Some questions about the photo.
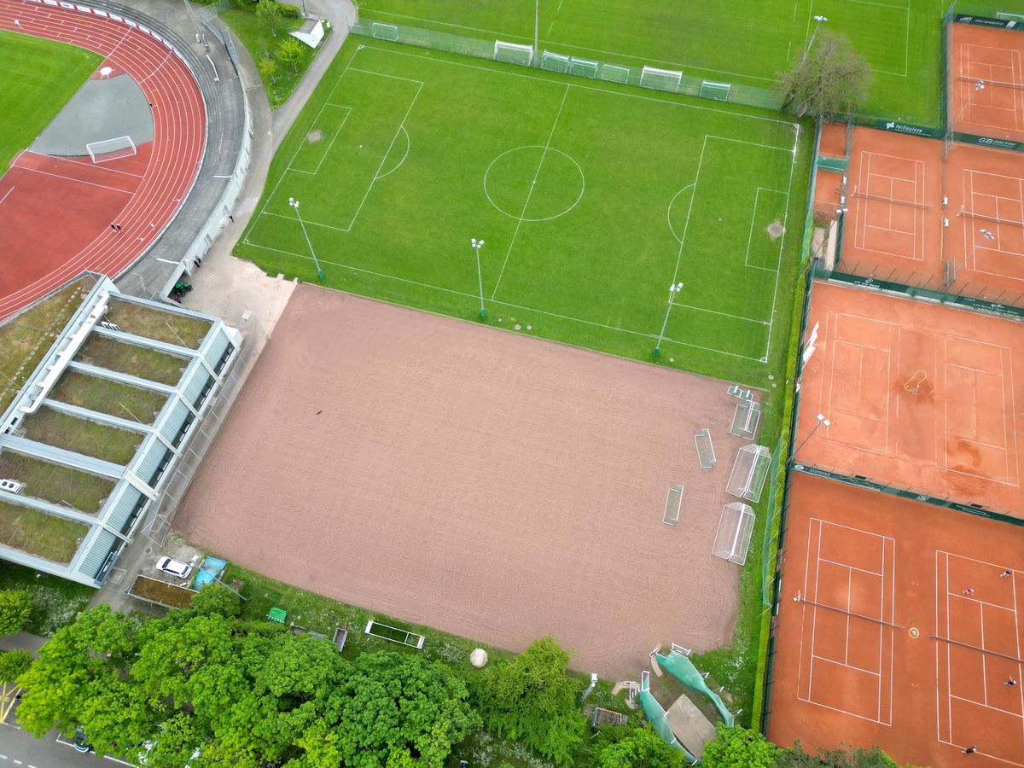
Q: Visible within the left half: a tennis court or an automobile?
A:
automobile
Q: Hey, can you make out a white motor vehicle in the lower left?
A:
Yes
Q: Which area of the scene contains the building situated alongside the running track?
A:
left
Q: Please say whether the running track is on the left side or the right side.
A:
left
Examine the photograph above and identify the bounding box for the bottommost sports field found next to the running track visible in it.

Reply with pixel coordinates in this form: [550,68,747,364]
[174,284,765,677]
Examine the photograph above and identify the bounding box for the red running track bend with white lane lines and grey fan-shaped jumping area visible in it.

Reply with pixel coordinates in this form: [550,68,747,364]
[0,9,207,323]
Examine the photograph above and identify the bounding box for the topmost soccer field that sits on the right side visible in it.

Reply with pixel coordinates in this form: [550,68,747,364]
[355,0,952,138]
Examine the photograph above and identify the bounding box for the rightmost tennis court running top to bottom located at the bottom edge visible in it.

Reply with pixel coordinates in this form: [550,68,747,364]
[914,500,1024,768]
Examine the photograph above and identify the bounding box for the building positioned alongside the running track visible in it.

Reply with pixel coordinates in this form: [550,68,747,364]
[0,270,242,593]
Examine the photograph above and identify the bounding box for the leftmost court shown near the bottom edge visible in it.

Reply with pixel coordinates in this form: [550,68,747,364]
[764,470,917,768]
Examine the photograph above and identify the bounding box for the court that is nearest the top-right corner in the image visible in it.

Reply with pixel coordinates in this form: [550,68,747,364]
[954,23,1024,141]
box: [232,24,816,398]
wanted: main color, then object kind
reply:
green soccer field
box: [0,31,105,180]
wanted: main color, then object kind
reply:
green sports field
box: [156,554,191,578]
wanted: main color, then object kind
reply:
white car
